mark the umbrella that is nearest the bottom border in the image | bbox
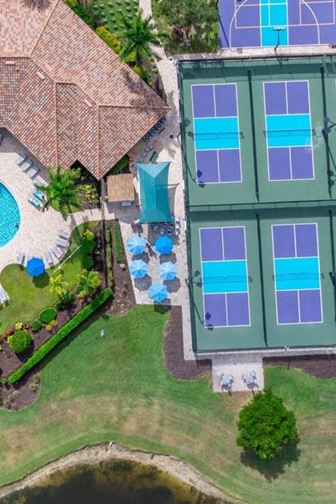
[148,282,167,301]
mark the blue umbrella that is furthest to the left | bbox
[25,258,44,276]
